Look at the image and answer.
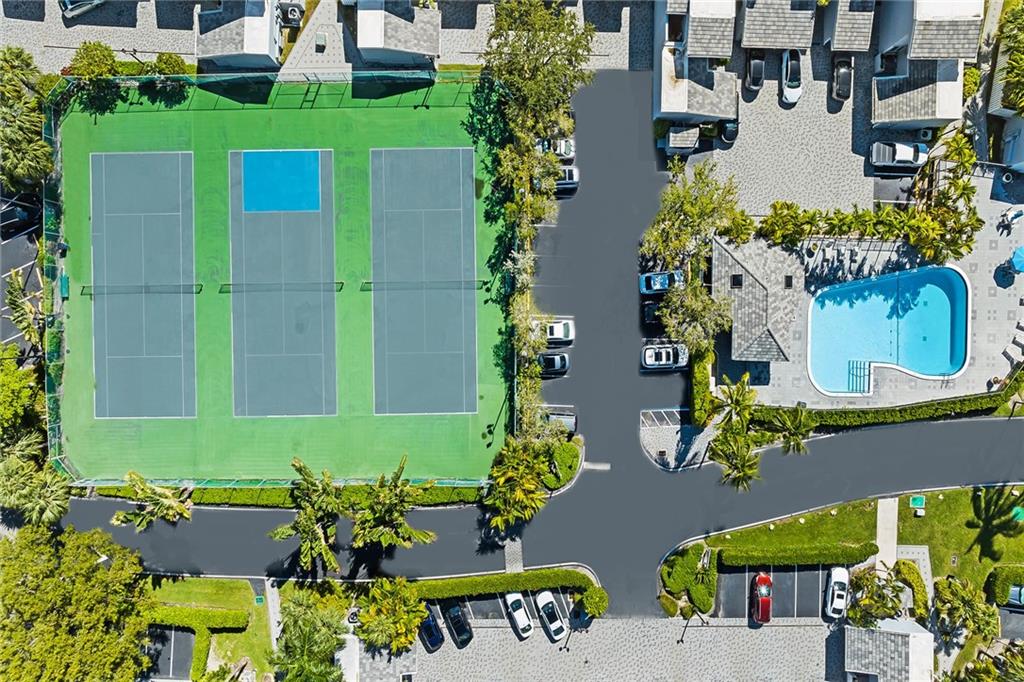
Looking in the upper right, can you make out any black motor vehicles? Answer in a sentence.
Yes, a black motor vehicle shows up in the upper right.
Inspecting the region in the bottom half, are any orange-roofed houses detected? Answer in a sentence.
No, I see no orange-roofed house in the bottom half.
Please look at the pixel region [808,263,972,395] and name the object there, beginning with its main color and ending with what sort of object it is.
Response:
blue swimming pool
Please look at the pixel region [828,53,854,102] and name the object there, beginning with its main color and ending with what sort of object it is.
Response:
black car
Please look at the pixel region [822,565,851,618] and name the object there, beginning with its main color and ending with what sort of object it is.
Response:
white car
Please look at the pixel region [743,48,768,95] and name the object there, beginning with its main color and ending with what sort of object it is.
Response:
black car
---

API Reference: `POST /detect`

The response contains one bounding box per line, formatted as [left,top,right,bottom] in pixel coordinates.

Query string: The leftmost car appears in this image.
[0,199,41,238]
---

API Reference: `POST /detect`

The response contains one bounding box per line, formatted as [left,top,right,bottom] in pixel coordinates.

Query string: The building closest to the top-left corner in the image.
[192,0,292,69]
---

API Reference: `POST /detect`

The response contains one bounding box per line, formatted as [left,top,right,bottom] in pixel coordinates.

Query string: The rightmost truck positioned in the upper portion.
[867,136,931,168]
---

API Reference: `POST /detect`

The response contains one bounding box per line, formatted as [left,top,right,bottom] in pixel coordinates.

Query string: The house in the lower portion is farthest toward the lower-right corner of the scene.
[845,617,933,682]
